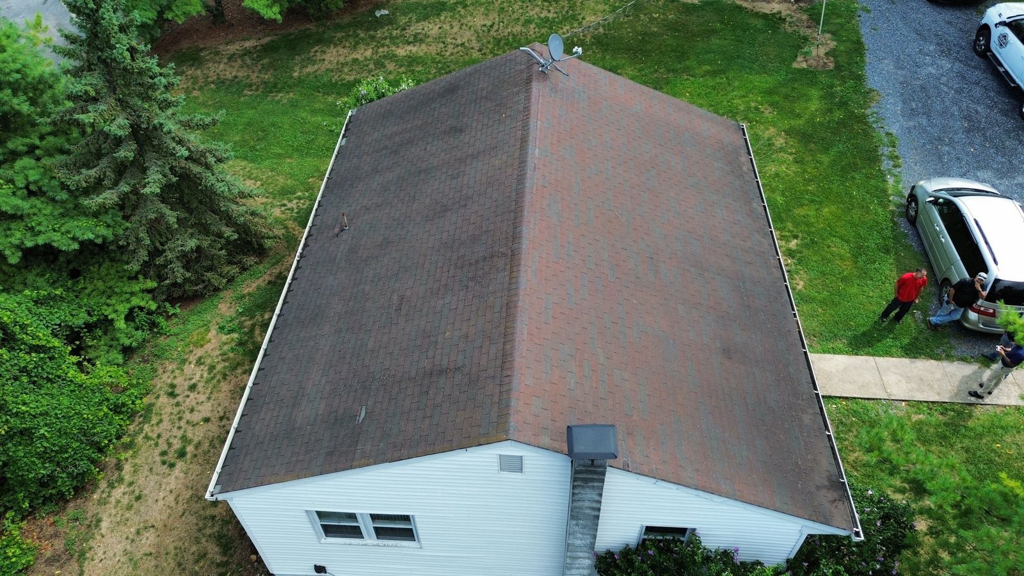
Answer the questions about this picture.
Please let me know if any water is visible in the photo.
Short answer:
No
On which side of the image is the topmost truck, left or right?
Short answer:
right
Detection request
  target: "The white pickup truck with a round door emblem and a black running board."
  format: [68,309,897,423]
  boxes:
[979,16,1024,115]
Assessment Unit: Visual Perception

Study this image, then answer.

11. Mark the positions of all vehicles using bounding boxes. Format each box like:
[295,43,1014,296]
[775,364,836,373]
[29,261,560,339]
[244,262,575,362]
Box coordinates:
[912,175,1024,323]
[979,16,1024,115]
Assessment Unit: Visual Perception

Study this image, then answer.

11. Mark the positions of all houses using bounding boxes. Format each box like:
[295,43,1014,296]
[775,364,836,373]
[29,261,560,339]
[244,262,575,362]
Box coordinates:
[204,42,861,576]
